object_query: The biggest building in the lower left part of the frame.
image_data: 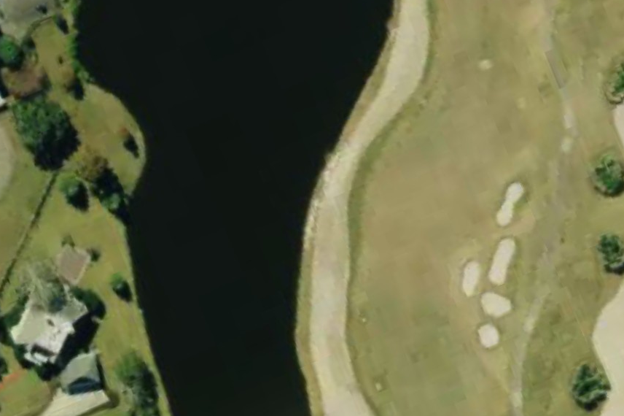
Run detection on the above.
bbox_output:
[7,286,95,369]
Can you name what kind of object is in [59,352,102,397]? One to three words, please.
building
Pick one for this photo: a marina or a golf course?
golf course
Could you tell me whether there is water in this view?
Yes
